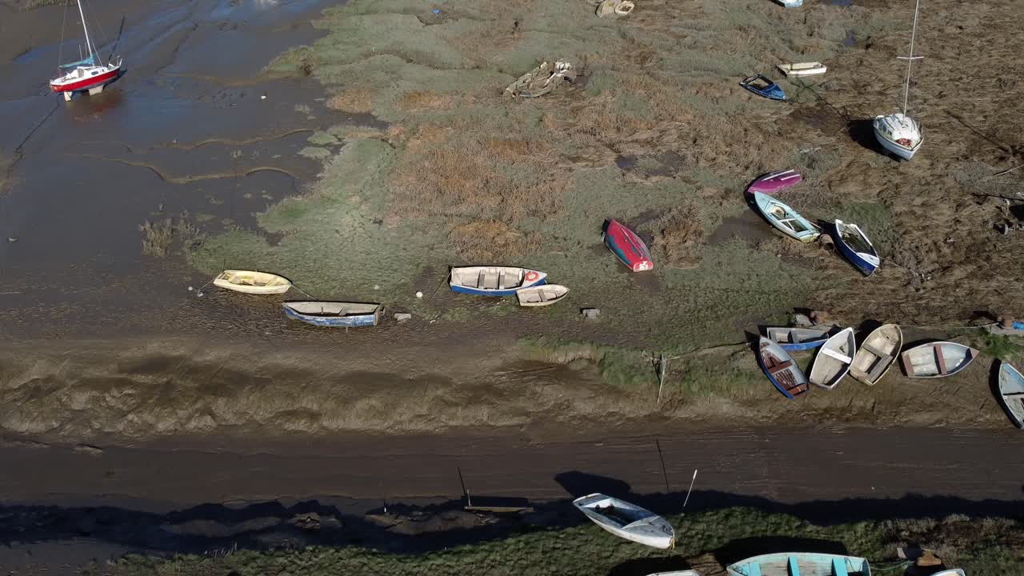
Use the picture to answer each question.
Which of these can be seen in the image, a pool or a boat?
boat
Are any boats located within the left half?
Yes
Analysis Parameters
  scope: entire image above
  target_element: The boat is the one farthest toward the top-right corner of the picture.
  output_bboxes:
[876,0,931,159]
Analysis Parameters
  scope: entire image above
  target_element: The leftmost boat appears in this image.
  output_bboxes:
[45,0,121,99]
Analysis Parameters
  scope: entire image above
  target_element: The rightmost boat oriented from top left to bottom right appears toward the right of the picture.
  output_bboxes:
[836,223,882,269]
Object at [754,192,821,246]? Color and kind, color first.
white boat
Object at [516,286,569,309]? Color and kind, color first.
white boat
